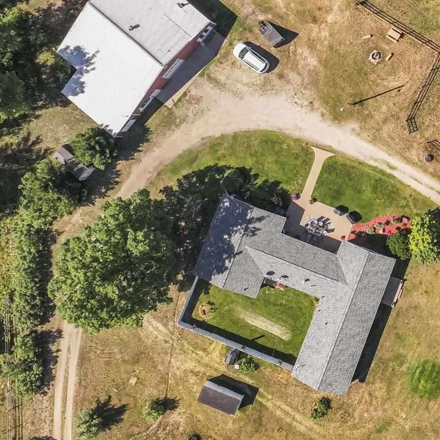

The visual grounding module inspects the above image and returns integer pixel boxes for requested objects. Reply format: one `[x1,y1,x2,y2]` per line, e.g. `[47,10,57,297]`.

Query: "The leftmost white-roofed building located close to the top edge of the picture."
[57,0,213,138]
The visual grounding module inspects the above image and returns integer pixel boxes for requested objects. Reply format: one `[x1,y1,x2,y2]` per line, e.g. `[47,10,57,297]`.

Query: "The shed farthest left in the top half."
[54,146,94,179]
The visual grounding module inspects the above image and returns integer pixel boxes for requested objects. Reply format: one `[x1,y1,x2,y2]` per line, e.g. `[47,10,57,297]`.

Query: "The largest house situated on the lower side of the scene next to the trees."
[195,194,397,397]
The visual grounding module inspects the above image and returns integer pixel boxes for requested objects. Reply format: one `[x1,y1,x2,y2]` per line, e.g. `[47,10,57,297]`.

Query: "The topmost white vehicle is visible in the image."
[231,46,267,76]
